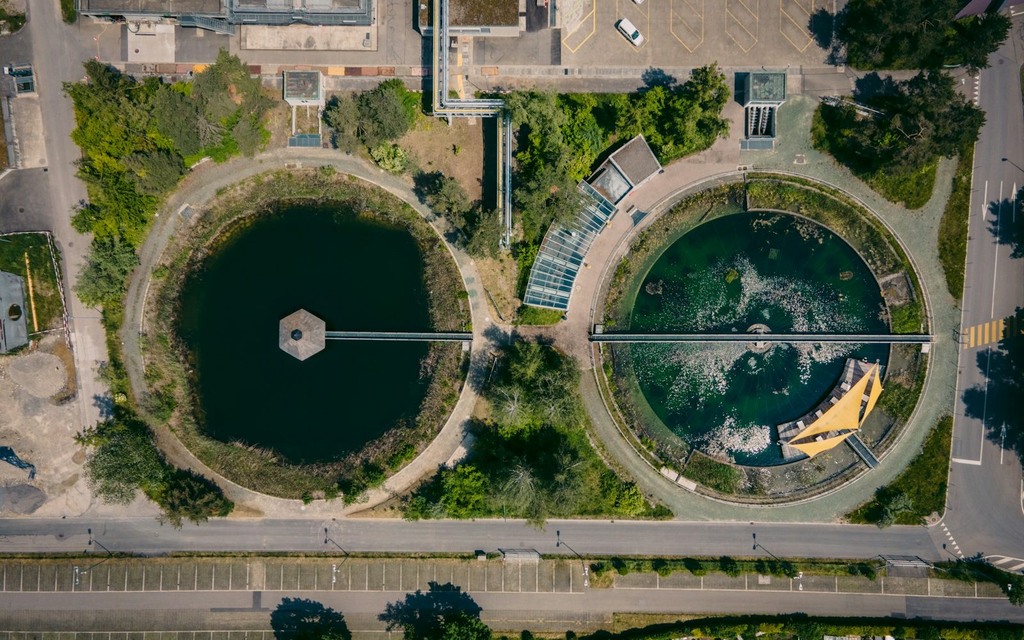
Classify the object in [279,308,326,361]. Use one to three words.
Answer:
building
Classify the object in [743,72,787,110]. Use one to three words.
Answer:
building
